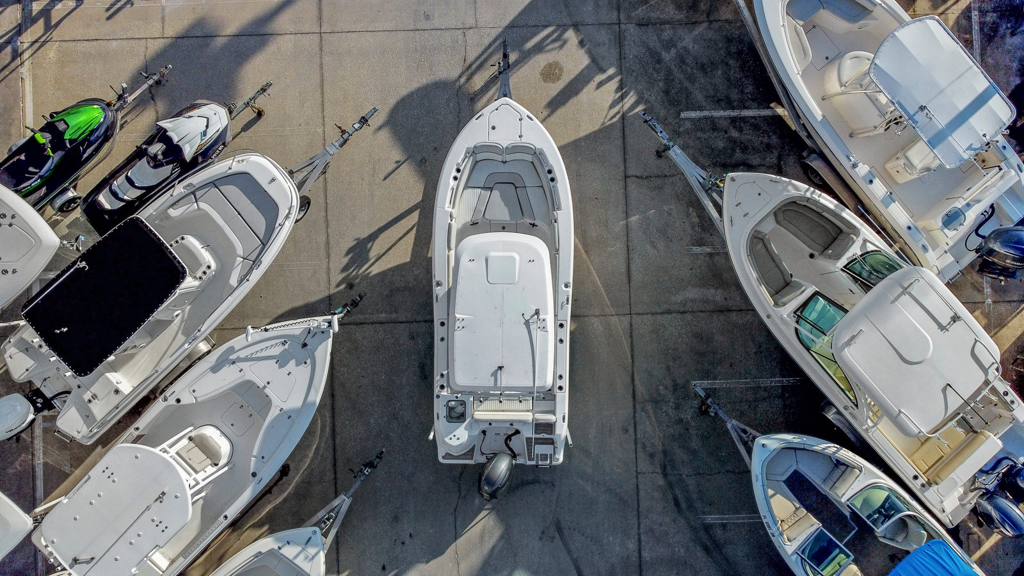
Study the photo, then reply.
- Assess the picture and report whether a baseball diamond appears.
No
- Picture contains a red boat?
No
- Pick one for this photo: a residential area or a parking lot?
parking lot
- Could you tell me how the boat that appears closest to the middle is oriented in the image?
vertically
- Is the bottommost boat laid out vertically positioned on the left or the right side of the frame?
left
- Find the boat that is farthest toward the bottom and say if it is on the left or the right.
left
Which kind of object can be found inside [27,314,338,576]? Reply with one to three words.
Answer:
boat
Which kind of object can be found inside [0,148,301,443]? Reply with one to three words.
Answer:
boat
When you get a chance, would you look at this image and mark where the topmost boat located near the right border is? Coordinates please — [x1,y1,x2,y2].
[748,0,1024,284]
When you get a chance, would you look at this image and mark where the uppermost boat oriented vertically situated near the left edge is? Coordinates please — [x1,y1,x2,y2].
[0,182,64,312]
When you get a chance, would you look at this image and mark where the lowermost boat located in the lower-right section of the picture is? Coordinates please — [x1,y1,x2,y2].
[749,432,987,576]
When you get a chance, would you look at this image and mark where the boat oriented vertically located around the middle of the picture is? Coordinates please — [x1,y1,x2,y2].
[432,98,575,496]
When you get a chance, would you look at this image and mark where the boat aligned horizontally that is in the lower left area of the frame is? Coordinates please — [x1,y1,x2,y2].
[207,525,328,576]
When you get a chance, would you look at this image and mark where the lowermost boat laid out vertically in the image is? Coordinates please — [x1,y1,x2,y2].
[0,480,38,564]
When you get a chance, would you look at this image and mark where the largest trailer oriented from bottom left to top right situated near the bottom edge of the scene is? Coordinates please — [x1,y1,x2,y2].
[248,436,398,562]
